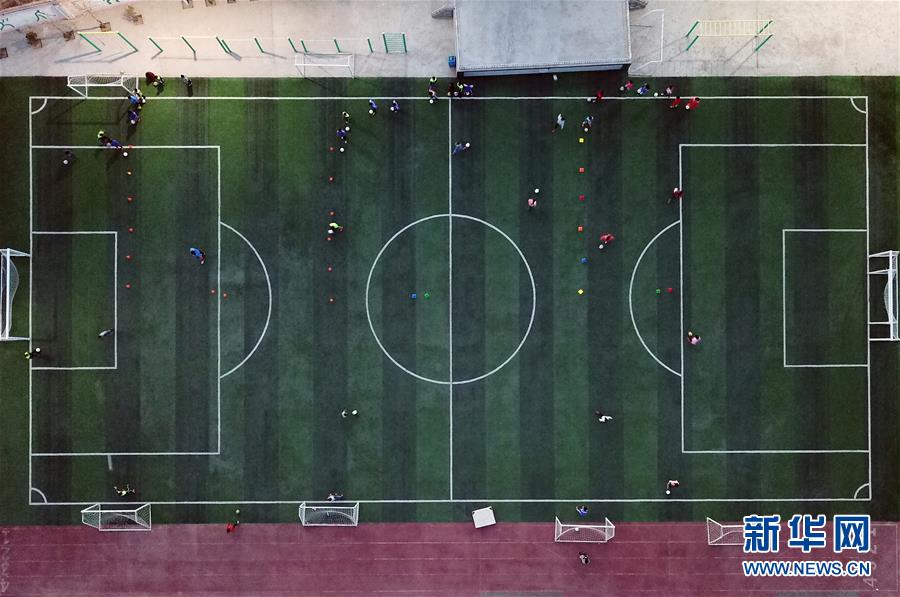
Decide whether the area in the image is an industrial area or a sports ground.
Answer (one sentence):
This looks like a sports ground.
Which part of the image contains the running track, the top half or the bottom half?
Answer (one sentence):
Seen from above, the running track lies in the bottom half of the view.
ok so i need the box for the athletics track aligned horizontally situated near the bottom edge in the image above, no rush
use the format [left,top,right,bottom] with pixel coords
[0,522,900,597]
